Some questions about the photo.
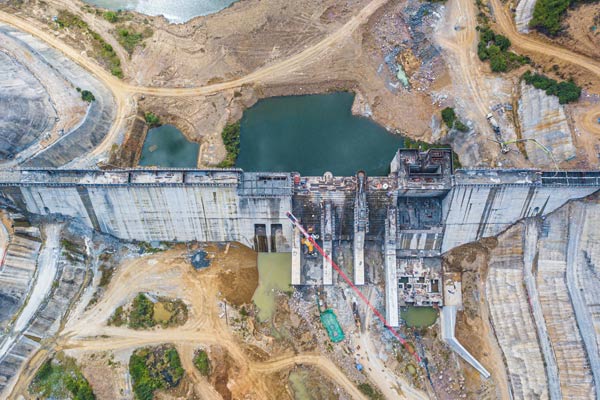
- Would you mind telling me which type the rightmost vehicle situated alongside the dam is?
truck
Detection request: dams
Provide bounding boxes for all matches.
[0,149,600,327]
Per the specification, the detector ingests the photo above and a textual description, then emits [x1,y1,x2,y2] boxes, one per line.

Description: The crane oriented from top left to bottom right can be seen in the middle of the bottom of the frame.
[287,211,438,371]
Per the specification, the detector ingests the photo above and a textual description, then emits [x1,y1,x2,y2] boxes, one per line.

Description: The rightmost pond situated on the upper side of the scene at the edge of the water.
[236,93,404,176]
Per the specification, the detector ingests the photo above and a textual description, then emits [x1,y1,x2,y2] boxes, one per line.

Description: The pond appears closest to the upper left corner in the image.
[141,124,200,167]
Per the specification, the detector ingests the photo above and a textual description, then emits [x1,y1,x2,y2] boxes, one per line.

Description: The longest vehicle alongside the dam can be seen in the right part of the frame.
[493,129,558,178]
